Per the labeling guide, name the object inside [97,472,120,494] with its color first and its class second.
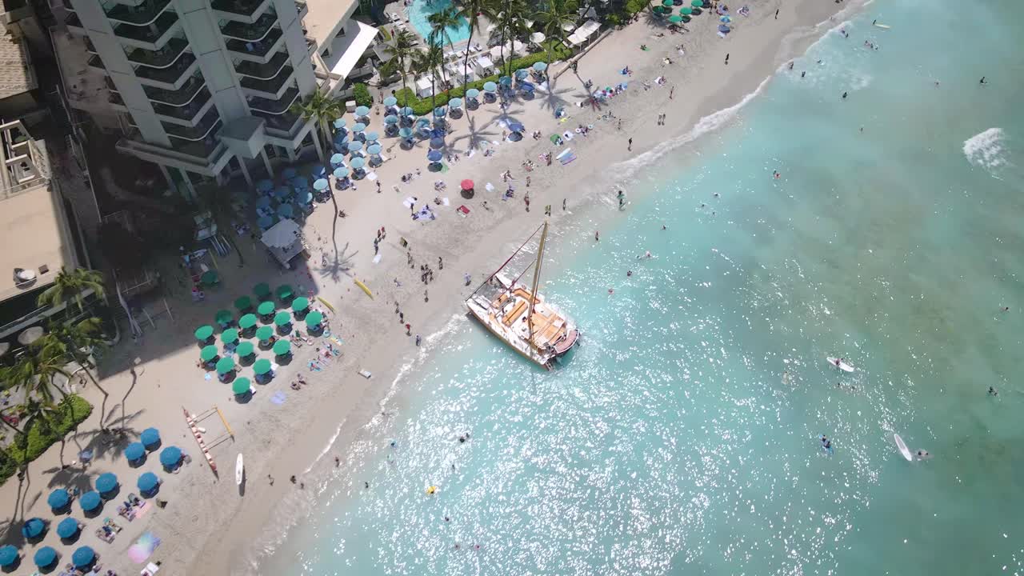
blue umbrella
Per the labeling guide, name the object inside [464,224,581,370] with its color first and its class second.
white boat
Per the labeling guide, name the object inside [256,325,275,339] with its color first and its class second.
green umbrella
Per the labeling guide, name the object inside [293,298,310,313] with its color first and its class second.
green umbrella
